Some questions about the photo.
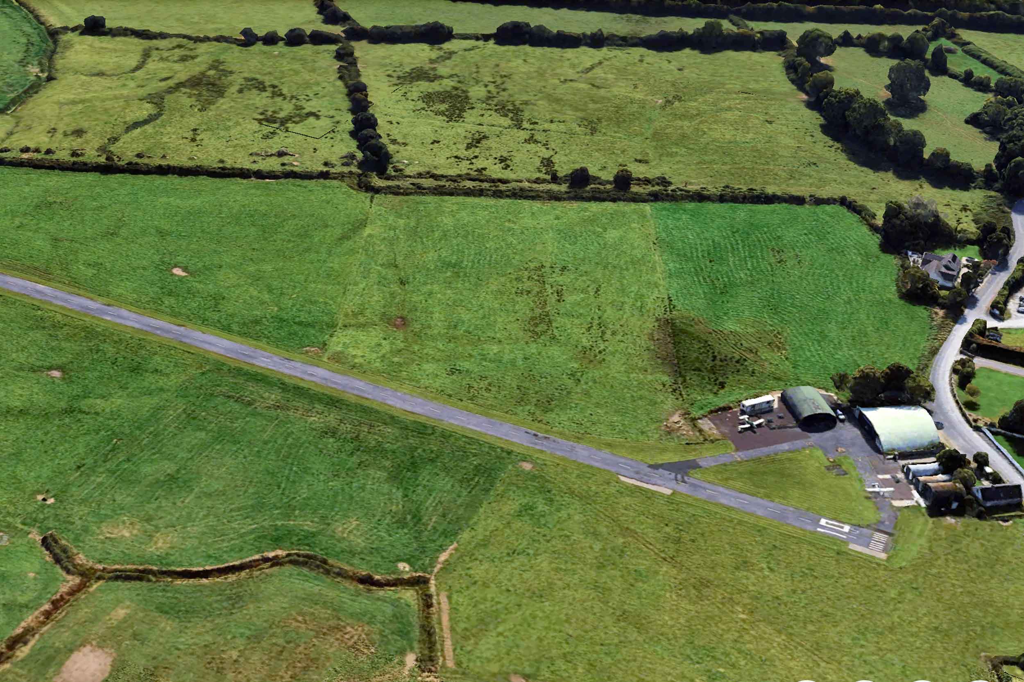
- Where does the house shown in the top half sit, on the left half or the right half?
right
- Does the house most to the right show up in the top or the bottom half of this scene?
bottom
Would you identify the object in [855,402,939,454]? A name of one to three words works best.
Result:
hangar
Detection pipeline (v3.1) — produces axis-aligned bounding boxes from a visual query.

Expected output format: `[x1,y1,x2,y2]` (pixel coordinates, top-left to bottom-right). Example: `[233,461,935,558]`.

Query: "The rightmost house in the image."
[976,482,1024,511]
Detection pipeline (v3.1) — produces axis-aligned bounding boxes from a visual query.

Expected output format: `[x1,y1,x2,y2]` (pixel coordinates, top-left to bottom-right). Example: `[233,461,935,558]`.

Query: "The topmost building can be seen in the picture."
[915,253,959,289]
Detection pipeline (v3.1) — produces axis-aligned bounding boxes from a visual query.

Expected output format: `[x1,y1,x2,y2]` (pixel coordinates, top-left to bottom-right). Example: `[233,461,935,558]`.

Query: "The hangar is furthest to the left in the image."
[779,385,837,427]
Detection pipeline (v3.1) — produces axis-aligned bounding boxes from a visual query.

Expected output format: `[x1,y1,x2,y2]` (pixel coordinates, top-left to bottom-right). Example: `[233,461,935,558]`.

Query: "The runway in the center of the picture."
[0,274,892,553]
